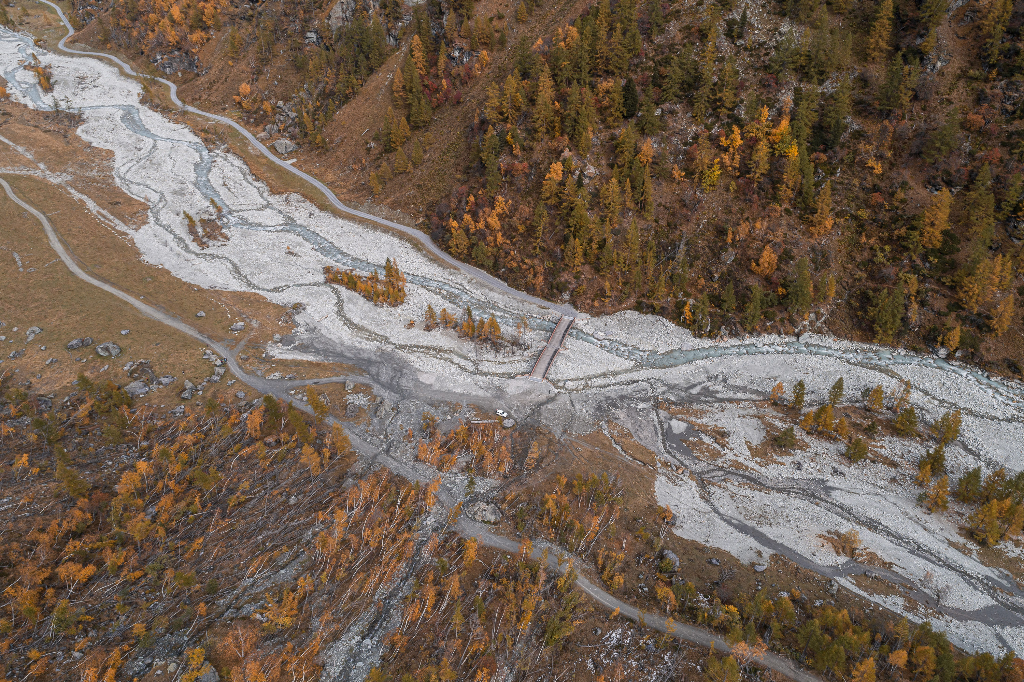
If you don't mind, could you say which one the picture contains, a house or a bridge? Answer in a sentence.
This aerial view contains a bridge.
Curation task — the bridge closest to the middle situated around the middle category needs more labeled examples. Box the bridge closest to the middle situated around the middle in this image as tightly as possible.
[522,313,581,388]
